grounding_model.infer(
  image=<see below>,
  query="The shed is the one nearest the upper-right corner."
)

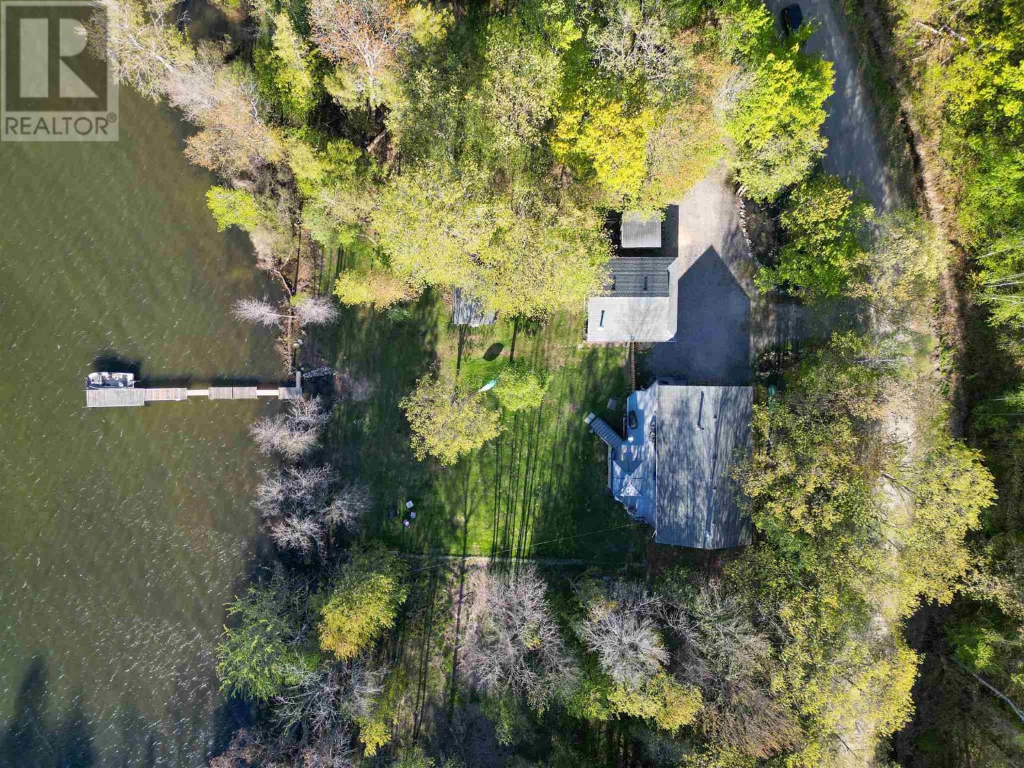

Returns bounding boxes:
[618,206,662,251]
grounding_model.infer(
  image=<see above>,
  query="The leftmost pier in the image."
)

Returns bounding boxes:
[86,386,145,408]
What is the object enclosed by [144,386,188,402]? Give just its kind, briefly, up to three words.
pier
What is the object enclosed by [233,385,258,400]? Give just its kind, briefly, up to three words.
pier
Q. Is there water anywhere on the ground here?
Yes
